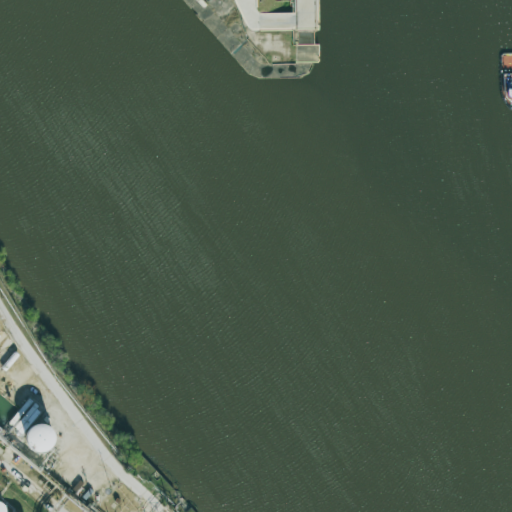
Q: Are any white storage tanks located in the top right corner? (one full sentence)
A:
No, there's no white storage tank to be seen in the top right corner.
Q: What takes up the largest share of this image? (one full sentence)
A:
The largest share of the image is taken up by water.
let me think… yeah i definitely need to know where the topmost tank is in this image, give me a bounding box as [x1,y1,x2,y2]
[27,423,58,455]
